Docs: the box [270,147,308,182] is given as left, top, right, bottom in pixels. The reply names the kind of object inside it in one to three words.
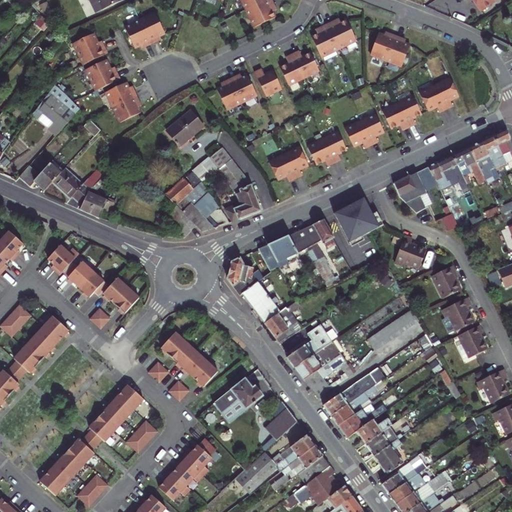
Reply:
house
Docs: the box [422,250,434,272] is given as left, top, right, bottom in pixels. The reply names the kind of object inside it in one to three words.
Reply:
vehicle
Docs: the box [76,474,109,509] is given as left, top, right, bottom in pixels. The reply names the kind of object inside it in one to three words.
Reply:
building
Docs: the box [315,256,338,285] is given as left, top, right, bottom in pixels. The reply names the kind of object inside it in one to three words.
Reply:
shed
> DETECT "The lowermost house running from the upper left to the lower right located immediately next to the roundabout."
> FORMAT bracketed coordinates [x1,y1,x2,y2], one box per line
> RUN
[162,332,218,386]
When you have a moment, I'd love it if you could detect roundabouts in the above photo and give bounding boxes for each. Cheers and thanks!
[150,242,219,310]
